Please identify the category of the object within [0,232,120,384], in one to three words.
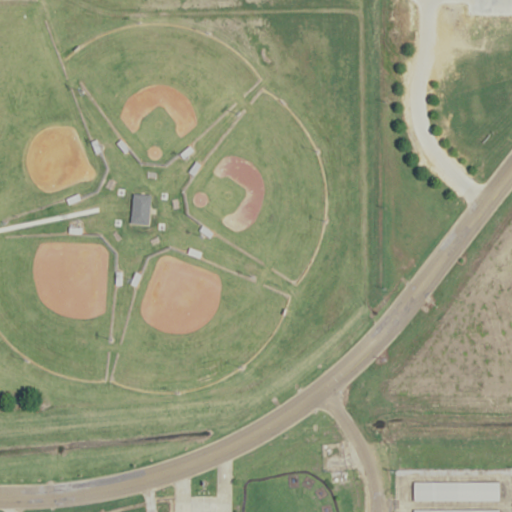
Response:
baseball field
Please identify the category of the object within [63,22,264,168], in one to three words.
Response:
baseball field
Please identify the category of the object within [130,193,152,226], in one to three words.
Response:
building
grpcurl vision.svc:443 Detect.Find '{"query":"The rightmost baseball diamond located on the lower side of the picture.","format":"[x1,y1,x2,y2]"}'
[110,244,291,396]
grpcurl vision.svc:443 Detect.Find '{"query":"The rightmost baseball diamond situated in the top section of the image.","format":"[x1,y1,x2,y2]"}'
[181,86,330,286]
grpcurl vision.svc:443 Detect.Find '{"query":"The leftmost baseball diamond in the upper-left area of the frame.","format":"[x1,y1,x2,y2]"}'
[0,19,110,223]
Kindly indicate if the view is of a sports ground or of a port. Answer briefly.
sports ground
